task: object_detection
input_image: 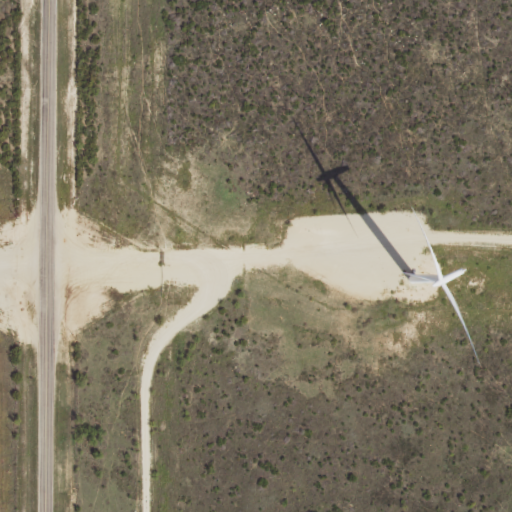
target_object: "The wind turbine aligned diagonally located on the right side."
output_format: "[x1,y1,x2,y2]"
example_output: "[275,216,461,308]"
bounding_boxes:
[404,212,483,364]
